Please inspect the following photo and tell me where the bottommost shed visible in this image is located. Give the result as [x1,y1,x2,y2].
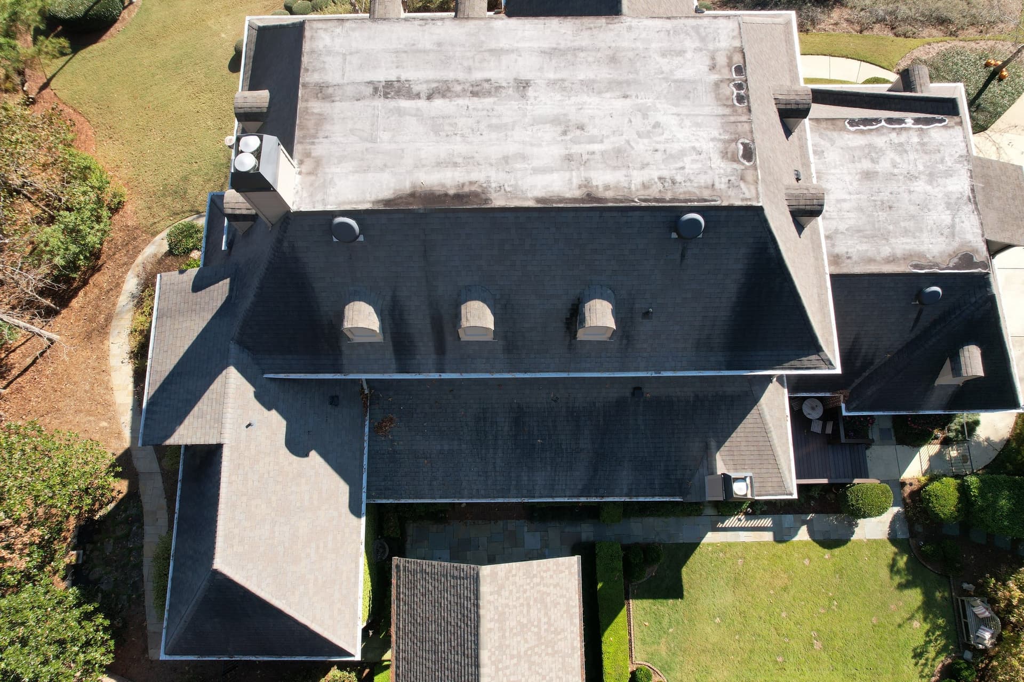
[385,555,588,682]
